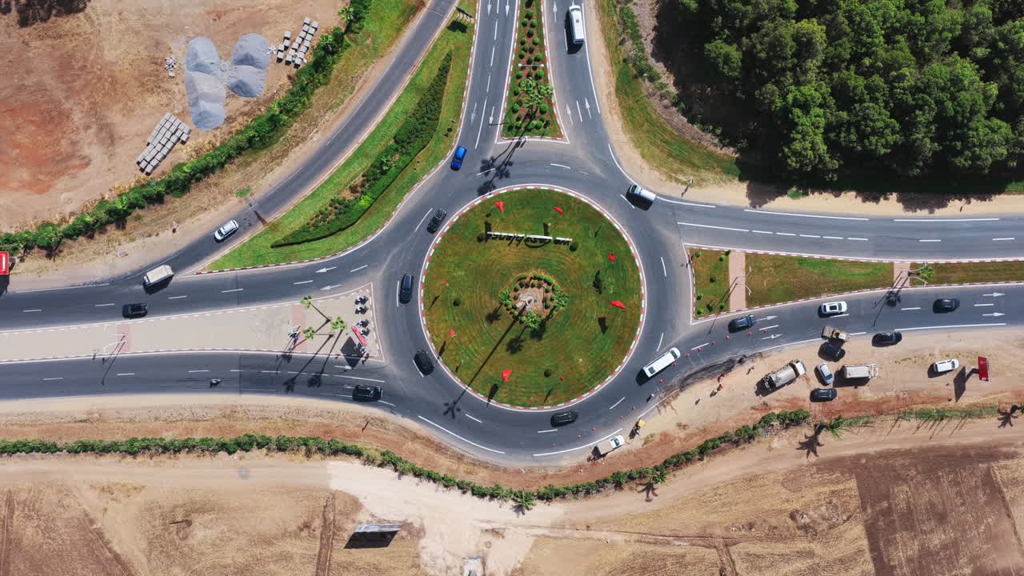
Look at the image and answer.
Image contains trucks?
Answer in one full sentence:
Yes, there's a truck here.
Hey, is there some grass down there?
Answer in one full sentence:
Yes, some grass is visible.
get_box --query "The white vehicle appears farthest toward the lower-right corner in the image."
[931,358,958,373]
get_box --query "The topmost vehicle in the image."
[569,6,583,45]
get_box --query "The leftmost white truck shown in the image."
[145,263,177,286]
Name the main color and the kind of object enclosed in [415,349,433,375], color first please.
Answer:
black car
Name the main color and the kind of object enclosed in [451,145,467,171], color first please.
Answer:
blue car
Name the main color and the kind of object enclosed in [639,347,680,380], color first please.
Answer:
white vehicle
